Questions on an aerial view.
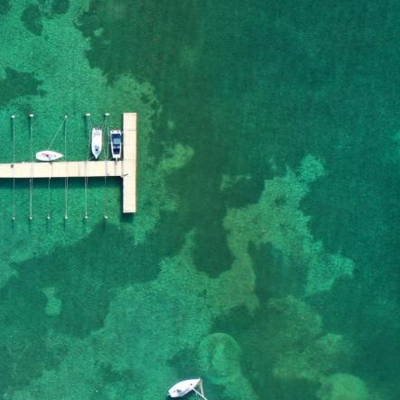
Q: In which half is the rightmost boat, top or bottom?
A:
bottom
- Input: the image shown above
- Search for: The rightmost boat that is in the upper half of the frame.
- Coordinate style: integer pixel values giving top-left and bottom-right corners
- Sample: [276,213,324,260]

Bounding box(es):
[109,128,122,159]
